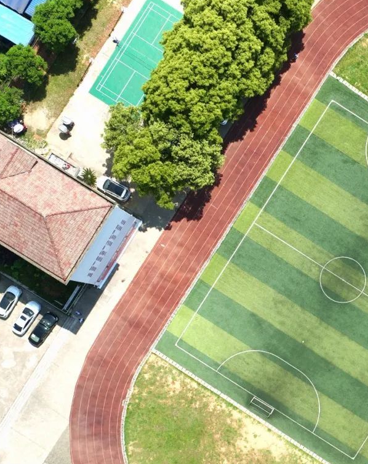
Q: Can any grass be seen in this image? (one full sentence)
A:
Yes, there is grass in the image.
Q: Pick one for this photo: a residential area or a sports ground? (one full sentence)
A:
This image shows a sports ground.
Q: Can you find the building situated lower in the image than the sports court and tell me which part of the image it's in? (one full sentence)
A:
The building situated lower in the image than the sports court is in the left part of the image.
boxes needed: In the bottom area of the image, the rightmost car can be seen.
[28,310,58,346]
